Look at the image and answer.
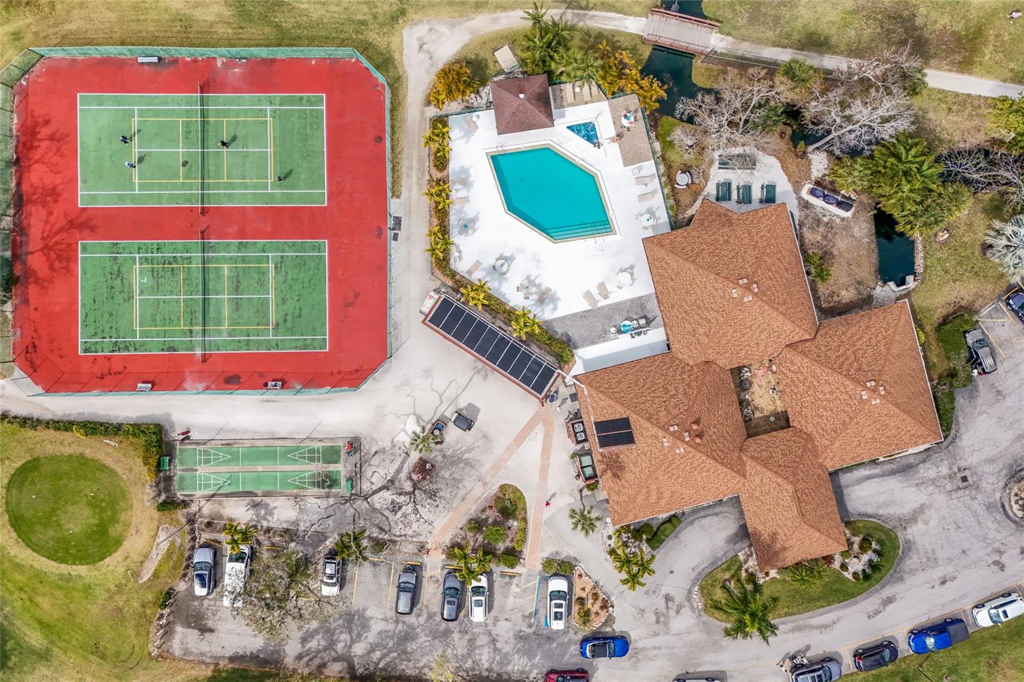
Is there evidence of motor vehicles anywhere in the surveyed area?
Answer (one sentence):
Yes, the picture does show a motor vehicle.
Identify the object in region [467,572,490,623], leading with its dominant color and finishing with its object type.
white car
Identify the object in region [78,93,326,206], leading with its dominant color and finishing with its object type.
green tennis court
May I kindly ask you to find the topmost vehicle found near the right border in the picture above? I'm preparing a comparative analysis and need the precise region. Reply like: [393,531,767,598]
[996,283,1024,331]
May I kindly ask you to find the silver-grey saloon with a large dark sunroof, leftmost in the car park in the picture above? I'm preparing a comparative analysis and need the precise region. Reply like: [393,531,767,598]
[191,545,218,598]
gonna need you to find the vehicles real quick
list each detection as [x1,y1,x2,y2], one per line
[449,410,475,434]
[394,564,418,617]
[439,569,463,622]
[850,637,897,670]
[191,545,218,598]
[961,326,1000,376]
[786,654,840,682]
[996,283,1024,331]
[318,551,342,596]
[579,633,628,660]
[546,575,570,631]
[907,617,971,653]
[467,572,490,623]
[971,591,1024,627]
[222,544,253,608]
